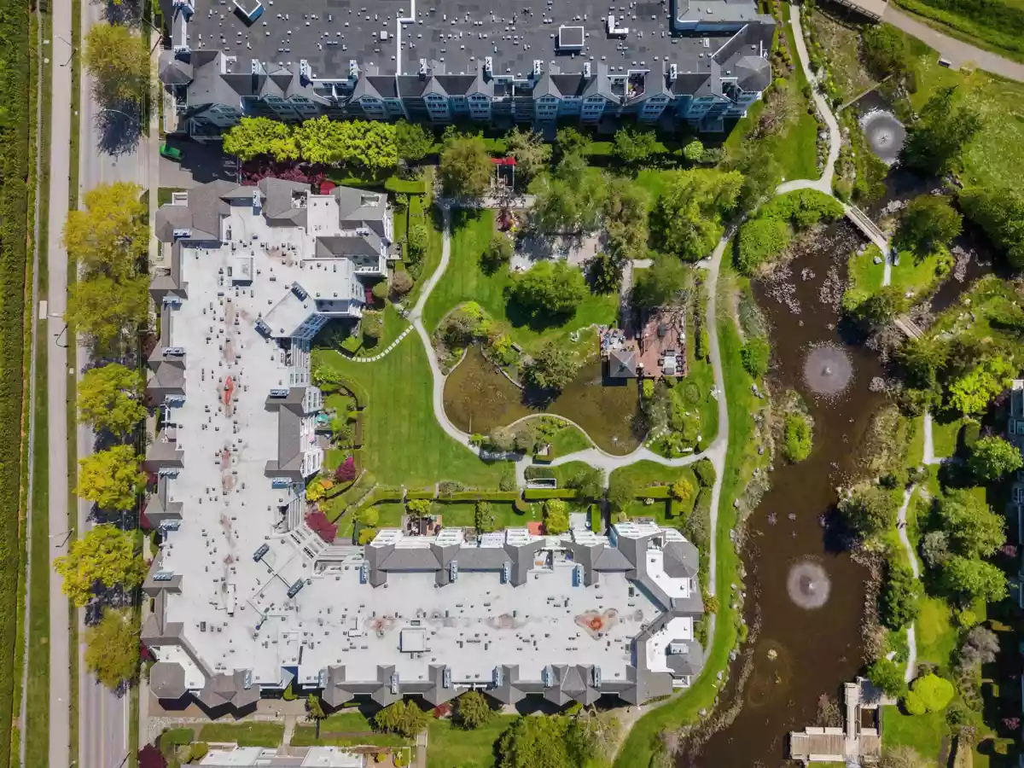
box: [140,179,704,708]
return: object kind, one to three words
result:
building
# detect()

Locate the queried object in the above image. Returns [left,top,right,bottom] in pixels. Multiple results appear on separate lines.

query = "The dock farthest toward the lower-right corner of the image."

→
[789,678,898,768]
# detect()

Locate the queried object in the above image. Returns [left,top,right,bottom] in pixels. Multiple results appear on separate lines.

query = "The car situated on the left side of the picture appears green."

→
[158,145,182,161]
